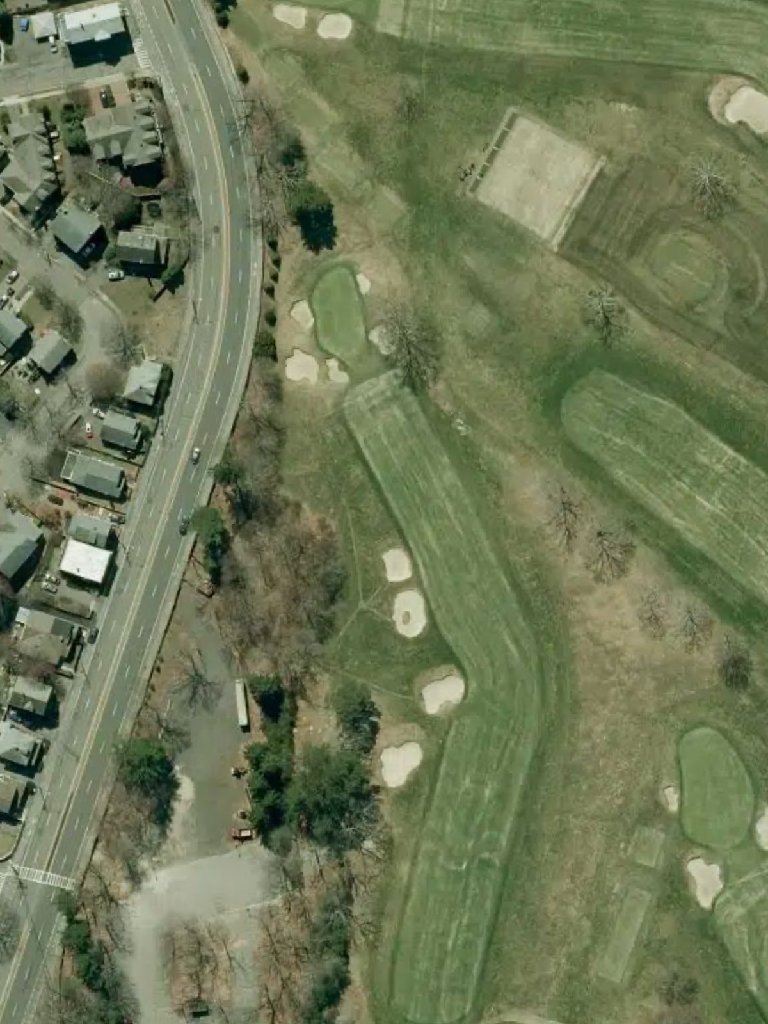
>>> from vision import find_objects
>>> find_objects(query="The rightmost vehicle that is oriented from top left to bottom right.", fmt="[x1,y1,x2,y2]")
[91,408,106,420]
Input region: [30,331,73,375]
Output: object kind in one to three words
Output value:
house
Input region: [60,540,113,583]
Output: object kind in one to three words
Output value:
building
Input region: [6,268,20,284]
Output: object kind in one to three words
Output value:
car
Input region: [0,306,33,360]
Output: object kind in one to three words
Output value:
house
